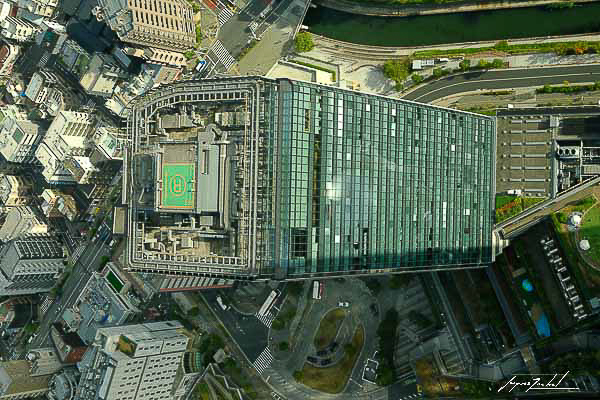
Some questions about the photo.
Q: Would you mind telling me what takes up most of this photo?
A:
buildings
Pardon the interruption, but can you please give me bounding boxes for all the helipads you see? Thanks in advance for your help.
[154,139,199,214]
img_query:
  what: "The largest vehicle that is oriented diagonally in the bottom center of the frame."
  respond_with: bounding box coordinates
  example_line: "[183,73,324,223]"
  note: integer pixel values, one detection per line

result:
[257,290,276,313]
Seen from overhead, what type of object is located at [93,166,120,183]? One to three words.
house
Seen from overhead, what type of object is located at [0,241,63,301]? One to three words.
building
